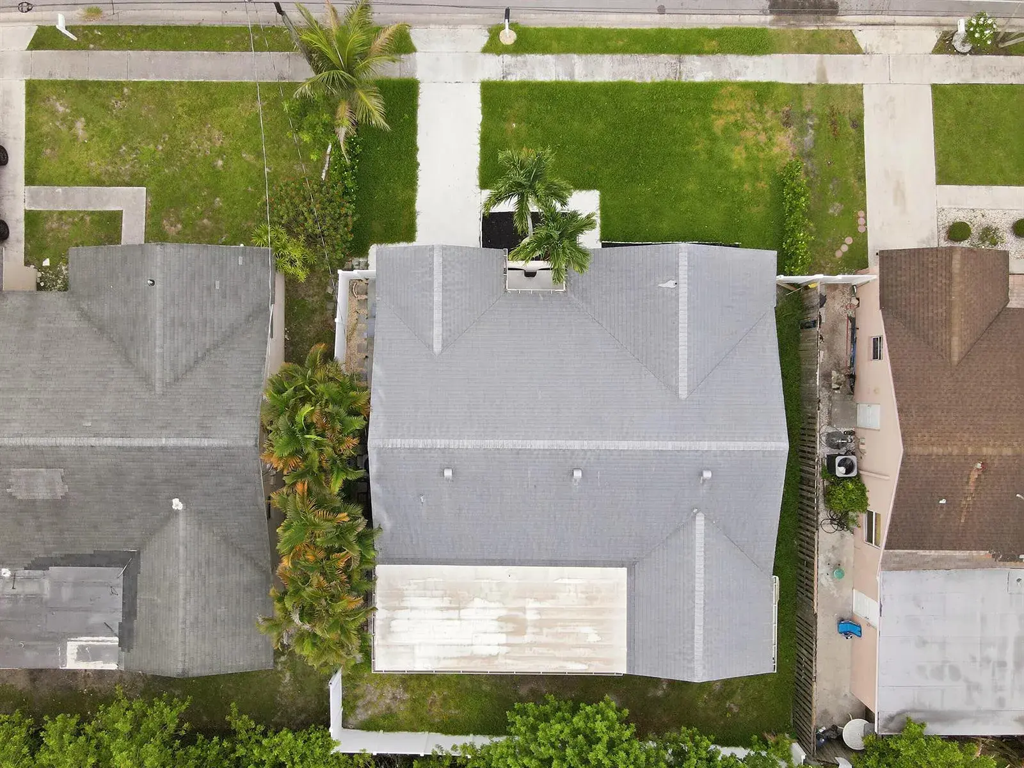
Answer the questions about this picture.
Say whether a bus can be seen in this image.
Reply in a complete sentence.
No, I can see no bus in this picture.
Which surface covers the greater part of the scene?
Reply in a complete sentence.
The bulk of the photo consists of buildings.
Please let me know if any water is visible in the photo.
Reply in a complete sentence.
No, water can't be seen anywhere here.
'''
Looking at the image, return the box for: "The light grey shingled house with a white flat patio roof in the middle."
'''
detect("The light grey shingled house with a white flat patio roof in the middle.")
[369,241,788,681]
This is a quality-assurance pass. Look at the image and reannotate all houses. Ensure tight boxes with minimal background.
[851,248,1024,735]
[0,242,287,680]
[369,241,788,681]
